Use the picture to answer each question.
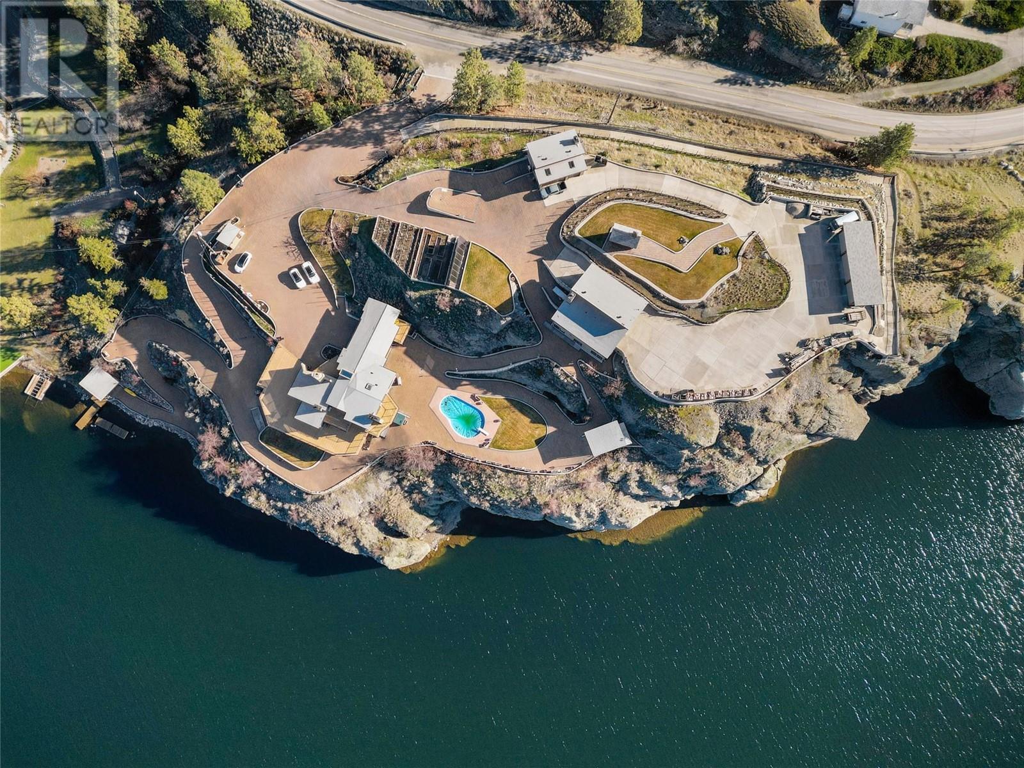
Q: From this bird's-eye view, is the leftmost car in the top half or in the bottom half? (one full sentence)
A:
The leftmost car sits in the top half of the picture.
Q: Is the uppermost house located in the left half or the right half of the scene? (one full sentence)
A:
The uppermost house sits on the right side.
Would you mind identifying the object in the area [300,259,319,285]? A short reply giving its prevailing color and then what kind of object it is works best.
white car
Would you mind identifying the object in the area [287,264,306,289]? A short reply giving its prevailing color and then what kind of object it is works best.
white car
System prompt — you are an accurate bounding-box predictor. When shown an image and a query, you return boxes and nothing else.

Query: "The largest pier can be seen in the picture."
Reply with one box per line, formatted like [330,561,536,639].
[69,398,108,431]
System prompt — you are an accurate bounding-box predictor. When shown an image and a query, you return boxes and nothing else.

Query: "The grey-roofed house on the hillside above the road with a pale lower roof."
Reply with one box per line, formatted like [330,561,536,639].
[852,0,929,44]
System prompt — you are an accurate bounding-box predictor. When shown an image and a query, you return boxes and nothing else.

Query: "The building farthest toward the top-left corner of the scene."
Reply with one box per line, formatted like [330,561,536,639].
[216,222,247,251]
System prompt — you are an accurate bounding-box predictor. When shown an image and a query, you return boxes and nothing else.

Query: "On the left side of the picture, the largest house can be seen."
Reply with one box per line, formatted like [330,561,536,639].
[256,297,411,456]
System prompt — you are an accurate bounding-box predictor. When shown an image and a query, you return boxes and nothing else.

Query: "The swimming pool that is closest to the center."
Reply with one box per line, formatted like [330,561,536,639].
[429,391,502,447]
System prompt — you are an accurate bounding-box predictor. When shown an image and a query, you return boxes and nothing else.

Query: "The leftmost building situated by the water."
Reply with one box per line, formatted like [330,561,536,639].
[79,366,124,401]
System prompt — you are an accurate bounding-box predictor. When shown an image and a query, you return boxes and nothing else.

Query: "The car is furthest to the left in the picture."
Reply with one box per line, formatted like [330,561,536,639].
[231,250,252,274]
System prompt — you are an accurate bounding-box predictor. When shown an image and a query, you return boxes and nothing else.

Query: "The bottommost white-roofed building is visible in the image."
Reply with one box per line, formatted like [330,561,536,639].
[584,421,632,456]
